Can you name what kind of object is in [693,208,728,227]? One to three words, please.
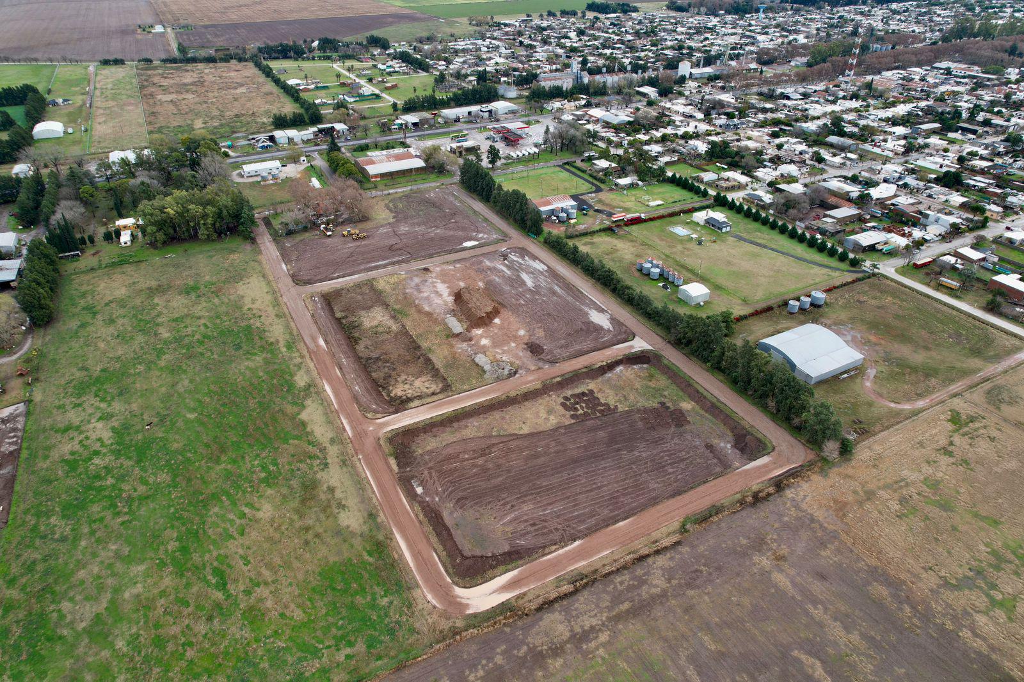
house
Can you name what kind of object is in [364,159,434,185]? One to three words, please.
building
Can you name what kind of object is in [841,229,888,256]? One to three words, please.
shed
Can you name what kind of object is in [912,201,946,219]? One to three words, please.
house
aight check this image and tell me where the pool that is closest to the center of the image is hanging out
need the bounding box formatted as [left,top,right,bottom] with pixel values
[666,225,696,237]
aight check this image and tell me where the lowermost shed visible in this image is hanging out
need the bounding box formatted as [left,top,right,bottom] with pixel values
[760,324,864,384]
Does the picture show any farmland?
Yes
